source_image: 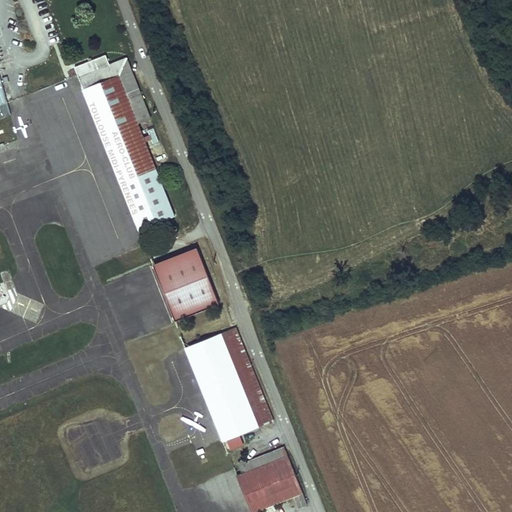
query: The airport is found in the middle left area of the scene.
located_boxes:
[0,76,252,512]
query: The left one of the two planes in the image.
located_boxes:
[12,116,28,138]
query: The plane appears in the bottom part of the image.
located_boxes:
[180,412,206,432]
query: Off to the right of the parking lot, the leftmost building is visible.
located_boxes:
[74,55,126,88]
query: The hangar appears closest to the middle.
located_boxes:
[155,248,219,321]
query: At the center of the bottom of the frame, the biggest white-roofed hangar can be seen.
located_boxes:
[185,326,274,442]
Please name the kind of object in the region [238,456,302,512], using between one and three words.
building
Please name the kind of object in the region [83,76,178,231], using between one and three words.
hangar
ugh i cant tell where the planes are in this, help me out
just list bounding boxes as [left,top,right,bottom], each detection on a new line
[12,116,28,138]
[180,412,206,432]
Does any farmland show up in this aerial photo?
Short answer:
Yes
